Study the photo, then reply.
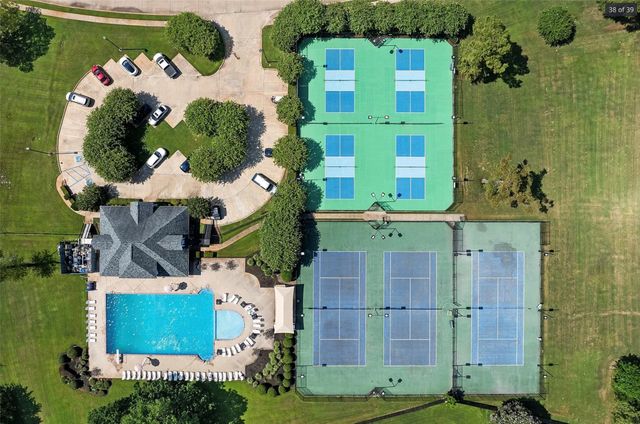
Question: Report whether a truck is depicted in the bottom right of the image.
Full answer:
No, there's no truck to be seen in the bottom right of the image.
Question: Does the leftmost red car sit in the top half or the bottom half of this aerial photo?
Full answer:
The leftmost red car is in the top half of the image.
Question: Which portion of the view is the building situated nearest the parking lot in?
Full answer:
You can find the building situated nearest the parking lot in the left area of the picture.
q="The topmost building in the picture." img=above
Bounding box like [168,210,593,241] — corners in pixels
[92,202,190,278]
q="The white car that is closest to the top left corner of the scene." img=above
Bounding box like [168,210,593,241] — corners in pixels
[66,91,91,106]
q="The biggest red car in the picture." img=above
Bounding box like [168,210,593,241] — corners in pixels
[92,63,112,84]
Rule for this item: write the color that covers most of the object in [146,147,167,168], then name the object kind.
white car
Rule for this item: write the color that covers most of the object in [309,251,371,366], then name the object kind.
blue tennis court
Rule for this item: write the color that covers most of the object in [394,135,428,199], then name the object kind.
blue sports court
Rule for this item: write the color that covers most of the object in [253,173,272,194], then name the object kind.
white vehicle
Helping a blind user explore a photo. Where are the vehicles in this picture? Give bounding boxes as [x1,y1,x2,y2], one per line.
[266,148,274,157]
[66,91,91,106]
[92,63,112,84]
[135,103,154,124]
[148,103,168,124]
[120,55,141,75]
[155,53,179,78]
[177,159,187,173]
[146,147,167,168]
[253,173,272,194]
